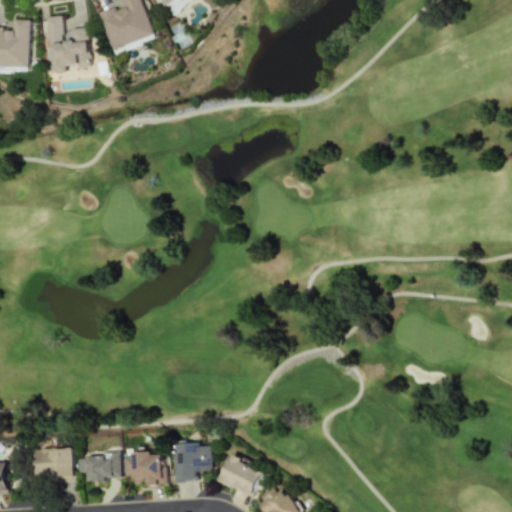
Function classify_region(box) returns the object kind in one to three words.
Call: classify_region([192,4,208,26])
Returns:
swimming pool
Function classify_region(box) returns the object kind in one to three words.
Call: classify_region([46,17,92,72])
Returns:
house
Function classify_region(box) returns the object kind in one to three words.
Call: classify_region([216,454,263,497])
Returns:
house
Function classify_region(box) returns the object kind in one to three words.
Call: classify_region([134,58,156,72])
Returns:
swimming pool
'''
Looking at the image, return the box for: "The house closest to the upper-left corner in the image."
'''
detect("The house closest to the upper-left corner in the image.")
[0,19,32,73]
